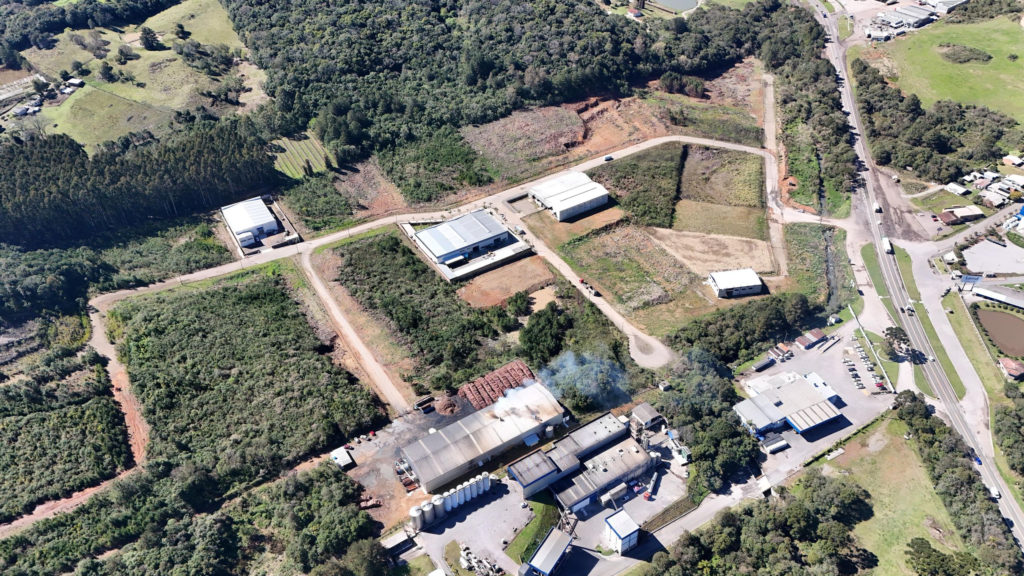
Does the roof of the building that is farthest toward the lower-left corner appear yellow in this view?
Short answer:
No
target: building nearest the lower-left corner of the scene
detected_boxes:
[330,445,353,467]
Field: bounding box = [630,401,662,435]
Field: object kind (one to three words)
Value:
building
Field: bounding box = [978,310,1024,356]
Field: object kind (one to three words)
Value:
pond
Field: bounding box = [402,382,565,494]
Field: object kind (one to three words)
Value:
shed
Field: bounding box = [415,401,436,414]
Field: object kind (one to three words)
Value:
vehicle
